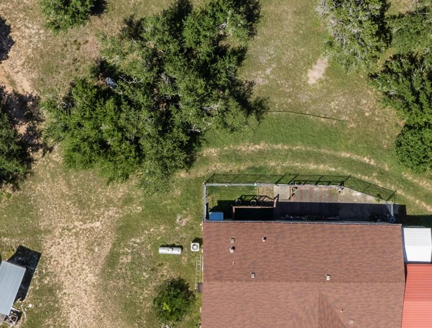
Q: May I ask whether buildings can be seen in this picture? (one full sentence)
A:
Yes, the photo shows a building.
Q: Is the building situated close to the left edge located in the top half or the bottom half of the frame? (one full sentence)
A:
It is in the bottom half that the building situated close to the left edge appears.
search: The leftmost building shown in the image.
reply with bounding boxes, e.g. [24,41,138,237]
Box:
[0,256,30,315]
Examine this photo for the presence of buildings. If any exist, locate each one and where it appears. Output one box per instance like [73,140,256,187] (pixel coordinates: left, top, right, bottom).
[201,220,406,328]
[404,224,432,262]
[0,256,30,315]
